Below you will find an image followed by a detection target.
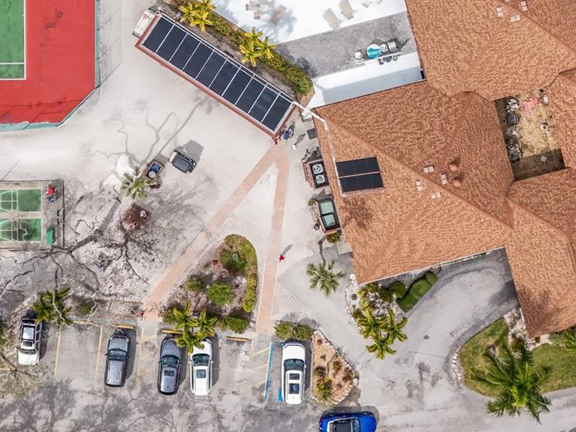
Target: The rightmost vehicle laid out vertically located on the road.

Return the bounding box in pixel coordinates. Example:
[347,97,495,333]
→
[280,341,308,406]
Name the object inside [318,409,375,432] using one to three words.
car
